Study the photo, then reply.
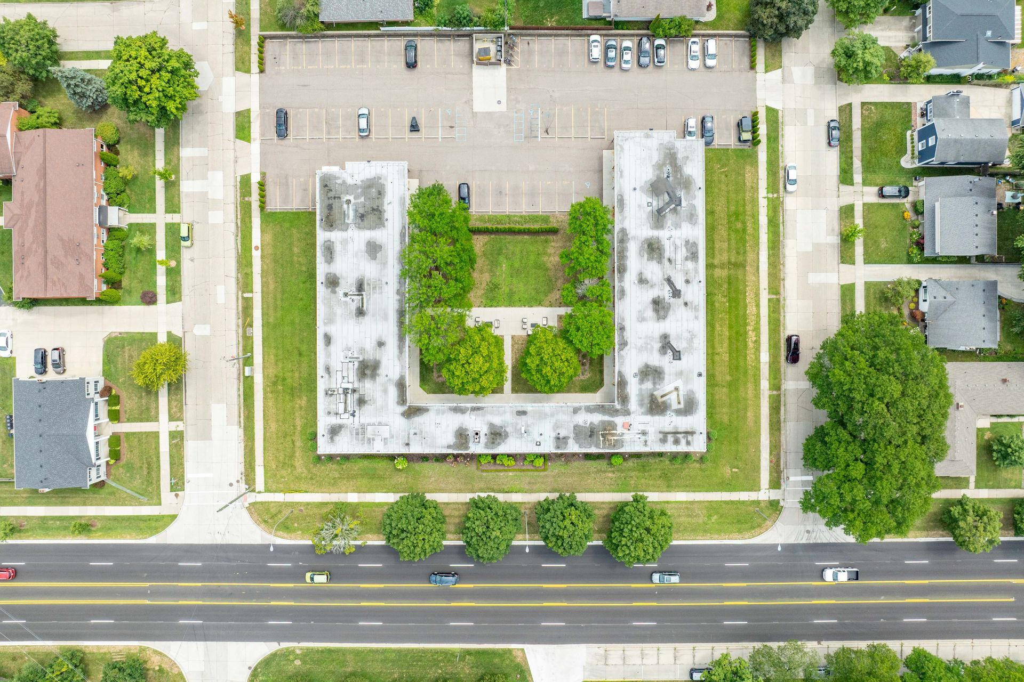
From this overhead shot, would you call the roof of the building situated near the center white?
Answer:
Yes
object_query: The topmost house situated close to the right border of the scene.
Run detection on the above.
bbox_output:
[909,0,1017,75]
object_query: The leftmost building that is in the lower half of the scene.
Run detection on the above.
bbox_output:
[13,376,112,492]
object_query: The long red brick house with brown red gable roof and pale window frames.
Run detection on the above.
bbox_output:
[0,102,137,300]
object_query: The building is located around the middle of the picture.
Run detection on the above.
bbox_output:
[317,127,706,454]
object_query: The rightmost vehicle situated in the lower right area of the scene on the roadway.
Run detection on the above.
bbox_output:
[822,567,860,582]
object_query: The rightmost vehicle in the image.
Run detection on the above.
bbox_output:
[877,184,908,199]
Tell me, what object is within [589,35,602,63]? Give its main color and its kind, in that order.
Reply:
white vehicle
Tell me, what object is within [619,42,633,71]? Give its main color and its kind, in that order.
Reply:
white car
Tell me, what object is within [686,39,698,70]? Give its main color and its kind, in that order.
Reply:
white vehicle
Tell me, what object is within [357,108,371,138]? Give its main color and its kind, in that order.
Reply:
white car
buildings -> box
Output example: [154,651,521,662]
[916,87,1008,165]
[1011,81,1024,127]
[0,102,137,300]
[318,0,414,26]
[317,127,706,454]
[917,279,998,350]
[915,175,997,256]
[611,0,706,25]
[13,376,112,492]
[909,0,1017,75]
[930,362,1024,477]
